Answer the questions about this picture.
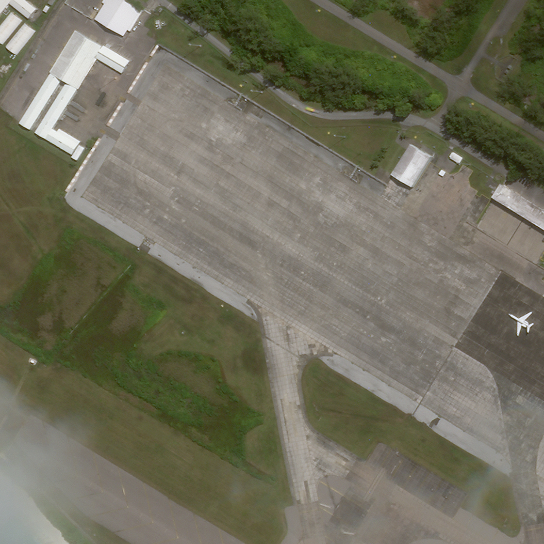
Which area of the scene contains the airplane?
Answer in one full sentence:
Look in the right portion of the view to spot the airplane.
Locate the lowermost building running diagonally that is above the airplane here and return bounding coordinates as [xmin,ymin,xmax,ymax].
[491,184,544,230]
